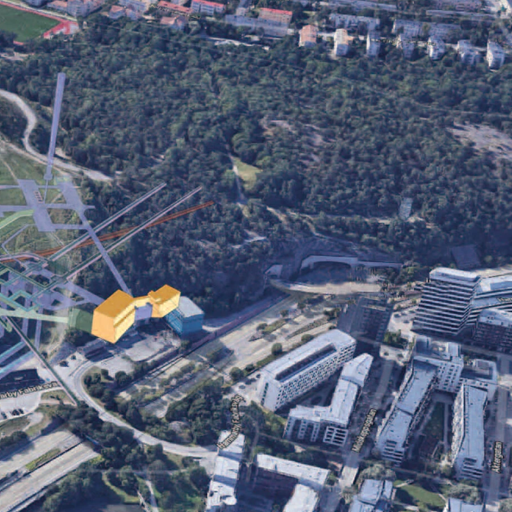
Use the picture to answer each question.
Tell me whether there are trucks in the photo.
No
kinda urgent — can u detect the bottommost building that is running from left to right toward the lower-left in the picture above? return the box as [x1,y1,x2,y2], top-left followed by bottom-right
[0,368,43,391]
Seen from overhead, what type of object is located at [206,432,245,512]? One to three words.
building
